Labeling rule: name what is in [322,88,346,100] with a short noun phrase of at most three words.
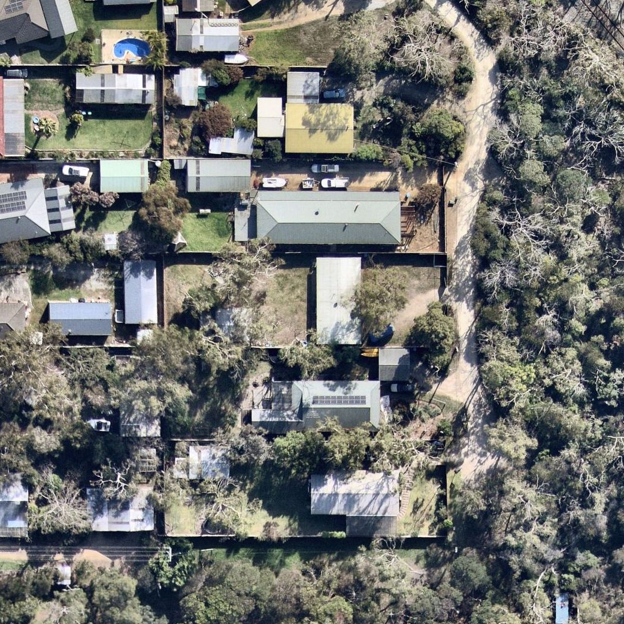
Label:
vehicle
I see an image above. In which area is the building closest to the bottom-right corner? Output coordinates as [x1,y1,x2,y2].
[311,470,400,536]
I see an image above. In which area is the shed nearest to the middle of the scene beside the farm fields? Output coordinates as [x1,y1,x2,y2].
[315,257,361,345]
